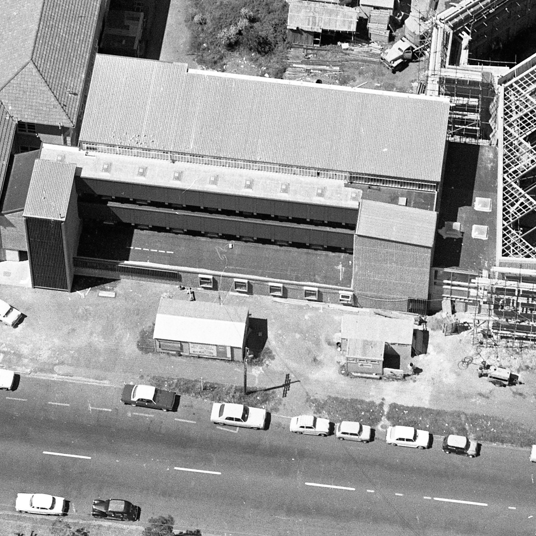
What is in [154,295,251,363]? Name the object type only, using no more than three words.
shed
